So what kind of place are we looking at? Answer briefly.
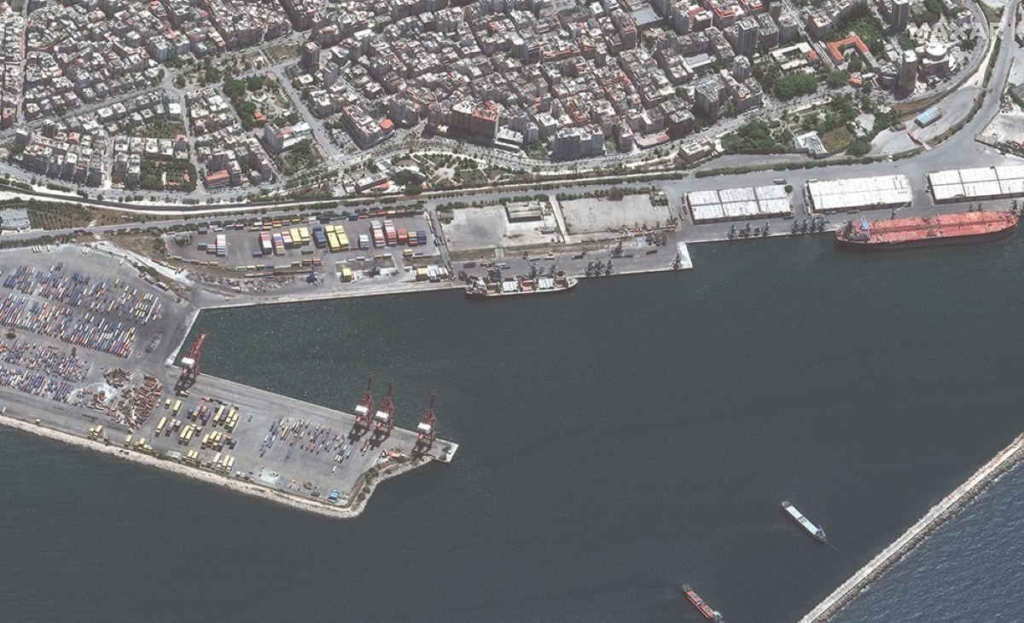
port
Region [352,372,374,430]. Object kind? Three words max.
container crane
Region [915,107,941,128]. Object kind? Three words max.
building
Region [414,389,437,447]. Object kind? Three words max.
container crane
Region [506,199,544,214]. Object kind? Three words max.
shed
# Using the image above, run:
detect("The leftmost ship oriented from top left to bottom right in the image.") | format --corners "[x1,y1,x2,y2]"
[682,586,726,623]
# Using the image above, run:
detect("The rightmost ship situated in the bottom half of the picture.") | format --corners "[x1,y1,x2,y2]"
[781,502,828,544]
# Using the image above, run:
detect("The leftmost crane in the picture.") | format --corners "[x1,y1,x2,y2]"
[178,330,207,382]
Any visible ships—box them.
[781,502,828,544]
[465,254,578,296]
[835,206,1018,249]
[682,586,726,623]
